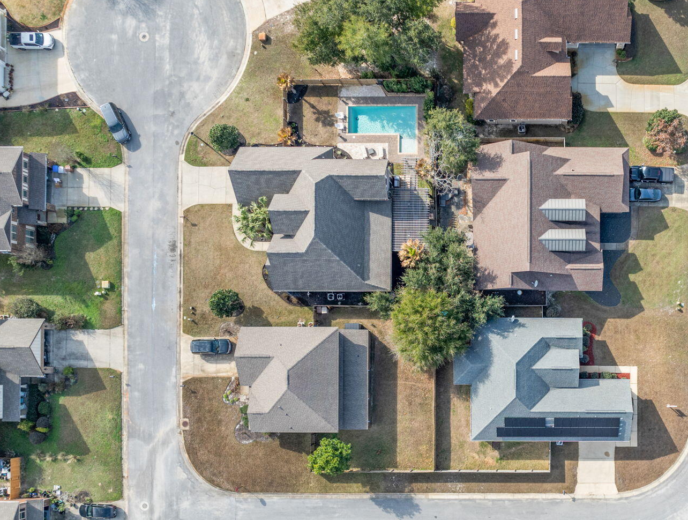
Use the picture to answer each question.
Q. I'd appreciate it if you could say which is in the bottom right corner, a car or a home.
home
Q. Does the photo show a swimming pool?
Yes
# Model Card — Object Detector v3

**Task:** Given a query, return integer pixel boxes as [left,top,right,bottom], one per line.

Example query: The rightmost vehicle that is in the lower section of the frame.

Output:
[190,338,234,356]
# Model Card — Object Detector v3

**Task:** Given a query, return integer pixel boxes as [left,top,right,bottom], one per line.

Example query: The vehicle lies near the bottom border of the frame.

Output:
[80,502,121,520]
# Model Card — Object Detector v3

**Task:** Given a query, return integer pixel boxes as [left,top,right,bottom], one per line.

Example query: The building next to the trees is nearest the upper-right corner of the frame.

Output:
[455,0,631,124]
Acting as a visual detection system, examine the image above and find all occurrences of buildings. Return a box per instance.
[0,496,54,520]
[453,317,633,442]
[0,146,56,254]
[0,318,58,422]
[234,326,369,433]
[455,0,631,124]
[227,146,395,292]
[470,139,629,292]
[0,4,8,91]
